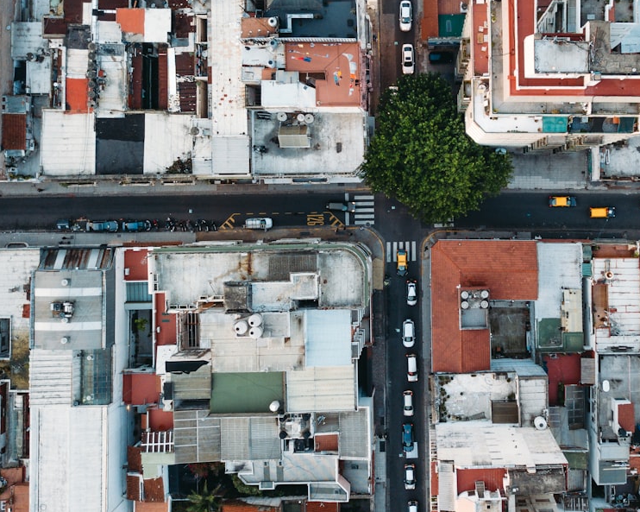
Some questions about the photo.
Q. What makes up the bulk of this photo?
buildings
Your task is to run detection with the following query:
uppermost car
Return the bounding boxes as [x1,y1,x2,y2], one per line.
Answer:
[399,2,412,31]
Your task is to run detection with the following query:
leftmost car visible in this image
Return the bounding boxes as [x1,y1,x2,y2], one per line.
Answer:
[88,220,118,232]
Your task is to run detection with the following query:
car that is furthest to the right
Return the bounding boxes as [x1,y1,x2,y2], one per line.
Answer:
[588,205,615,218]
